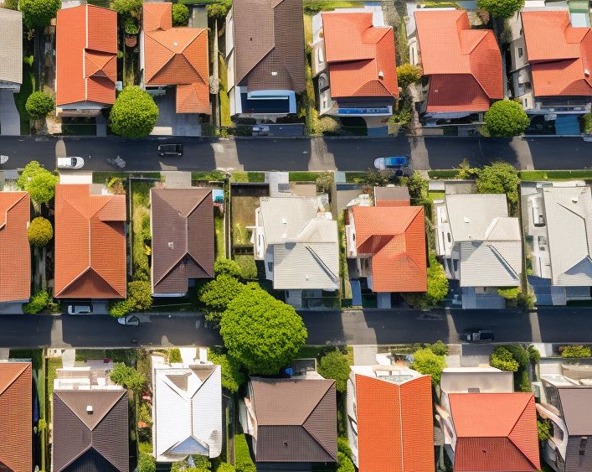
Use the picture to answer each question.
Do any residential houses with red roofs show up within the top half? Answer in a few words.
Yes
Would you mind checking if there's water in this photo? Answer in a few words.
No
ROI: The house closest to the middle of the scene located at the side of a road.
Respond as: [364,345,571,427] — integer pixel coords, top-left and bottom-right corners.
[249,196,342,289]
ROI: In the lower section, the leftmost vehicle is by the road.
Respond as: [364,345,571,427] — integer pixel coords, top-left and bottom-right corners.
[66,301,91,315]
